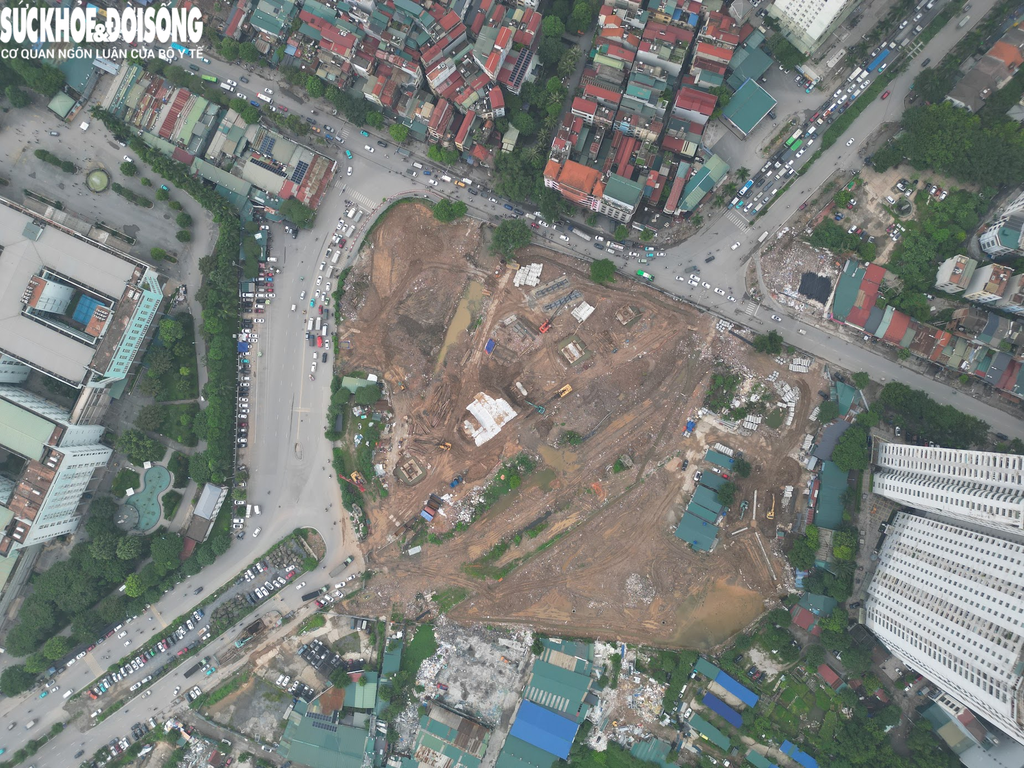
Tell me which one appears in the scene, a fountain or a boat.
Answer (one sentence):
There is a fountain in the scene.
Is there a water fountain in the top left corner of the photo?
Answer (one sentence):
Yes, there is a water fountain in the top left corner of the photo.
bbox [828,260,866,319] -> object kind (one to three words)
shed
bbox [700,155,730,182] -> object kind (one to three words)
house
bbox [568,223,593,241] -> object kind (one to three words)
vehicle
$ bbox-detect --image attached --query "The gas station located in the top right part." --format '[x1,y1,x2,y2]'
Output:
[722,76,777,136]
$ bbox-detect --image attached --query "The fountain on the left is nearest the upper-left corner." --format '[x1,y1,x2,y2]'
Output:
[86,168,110,192]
